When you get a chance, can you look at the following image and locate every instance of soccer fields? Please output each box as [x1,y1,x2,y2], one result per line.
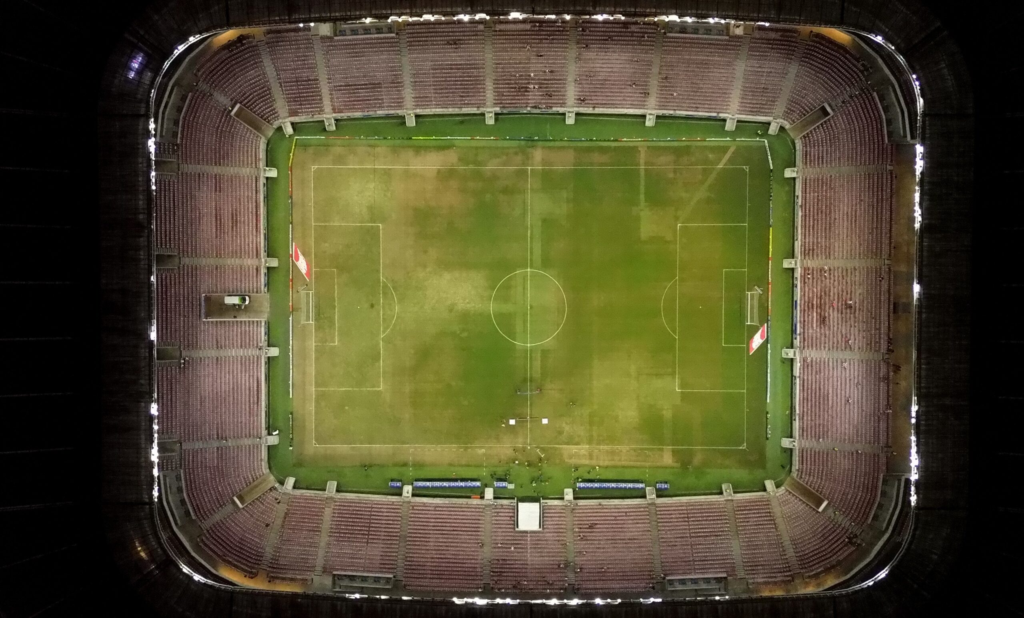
[292,145,769,480]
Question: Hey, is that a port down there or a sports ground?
sports ground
